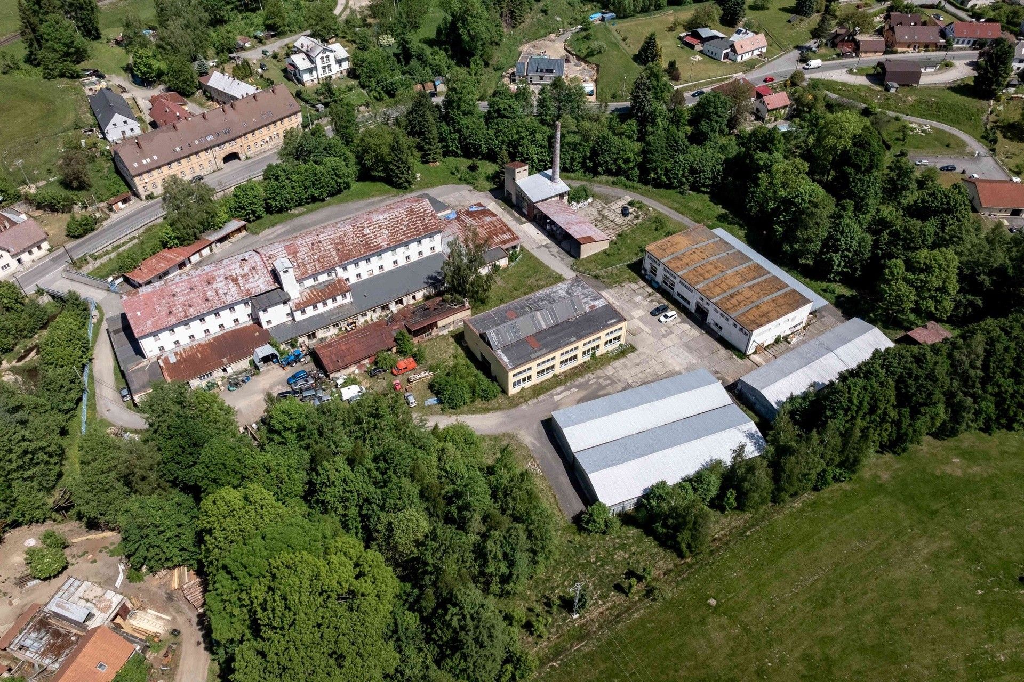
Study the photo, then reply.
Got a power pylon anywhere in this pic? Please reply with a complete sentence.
Yes, I can see a power pylon in this picture.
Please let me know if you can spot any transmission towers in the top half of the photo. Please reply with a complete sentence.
No, looking in the top half of the photo, there is no transmission tower.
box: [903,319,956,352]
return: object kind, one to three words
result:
shed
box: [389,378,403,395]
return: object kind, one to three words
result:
car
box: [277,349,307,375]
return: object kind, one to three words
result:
work vehicle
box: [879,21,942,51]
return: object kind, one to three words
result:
house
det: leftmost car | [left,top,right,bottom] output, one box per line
[116,387,134,405]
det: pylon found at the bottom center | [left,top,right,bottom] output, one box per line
[566,579,590,624]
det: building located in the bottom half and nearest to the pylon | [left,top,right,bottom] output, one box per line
[550,367,771,514]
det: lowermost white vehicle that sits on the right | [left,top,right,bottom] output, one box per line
[657,310,679,325]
